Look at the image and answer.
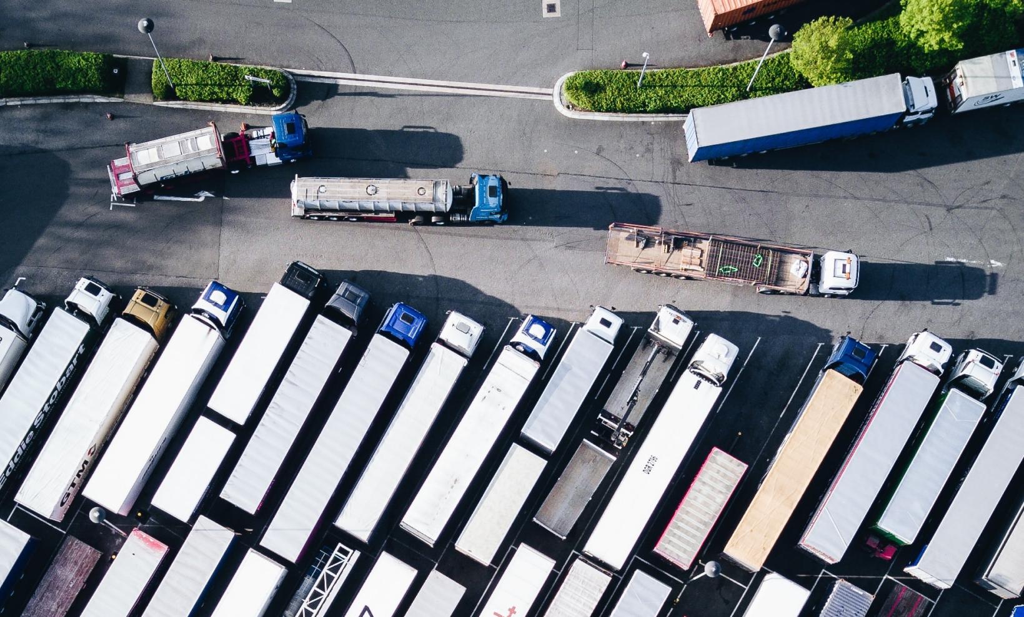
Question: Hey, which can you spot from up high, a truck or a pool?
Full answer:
There is a truck in the scene.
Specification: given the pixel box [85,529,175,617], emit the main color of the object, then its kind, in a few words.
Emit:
white trailer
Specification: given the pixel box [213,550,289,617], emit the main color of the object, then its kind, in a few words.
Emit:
white trailer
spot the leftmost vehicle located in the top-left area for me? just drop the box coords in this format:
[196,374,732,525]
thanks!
[112,109,312,193]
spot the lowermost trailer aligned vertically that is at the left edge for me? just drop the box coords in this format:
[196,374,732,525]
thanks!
[0,519,41,613]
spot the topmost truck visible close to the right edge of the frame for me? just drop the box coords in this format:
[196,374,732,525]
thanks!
[929,48,1024,117]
